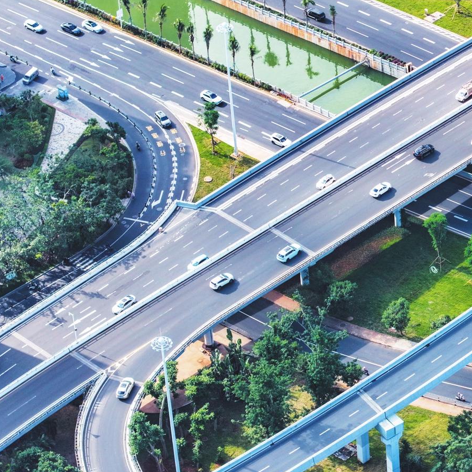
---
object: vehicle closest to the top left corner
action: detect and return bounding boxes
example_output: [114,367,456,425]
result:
[24,19,43,32]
